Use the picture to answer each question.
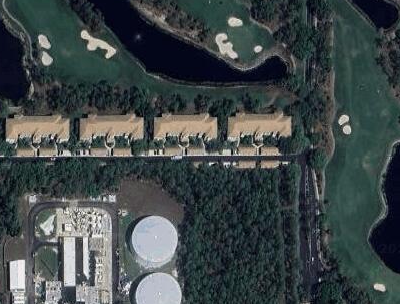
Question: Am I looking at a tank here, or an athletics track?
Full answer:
This aerial view contains a tank.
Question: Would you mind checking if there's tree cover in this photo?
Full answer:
Yes, there's tree cover in this view.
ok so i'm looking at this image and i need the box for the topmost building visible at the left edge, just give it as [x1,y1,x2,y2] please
[6,115,70,147]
